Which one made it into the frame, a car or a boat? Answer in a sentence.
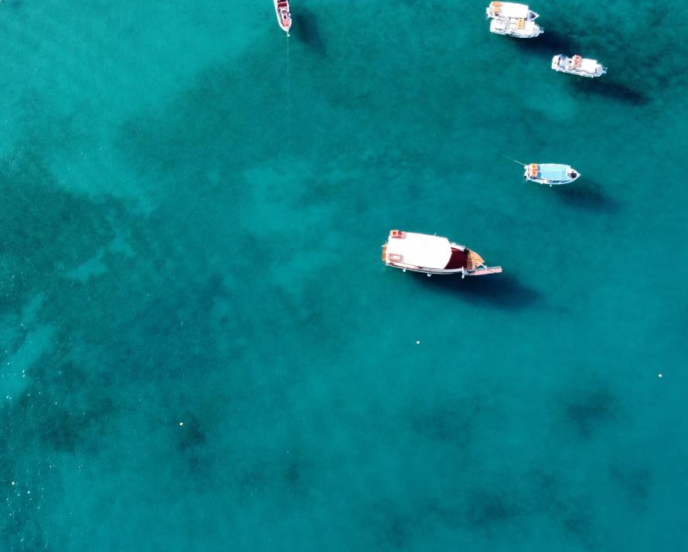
It is a boat that can be seen here.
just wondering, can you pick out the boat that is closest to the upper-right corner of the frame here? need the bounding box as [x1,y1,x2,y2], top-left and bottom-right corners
[551,56,609,77]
